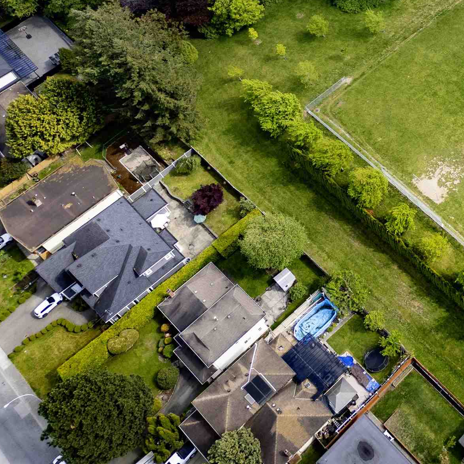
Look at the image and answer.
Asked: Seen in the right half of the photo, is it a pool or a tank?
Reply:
pool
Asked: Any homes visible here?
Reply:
Yes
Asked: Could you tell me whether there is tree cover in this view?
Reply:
Yes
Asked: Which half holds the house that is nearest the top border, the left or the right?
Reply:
left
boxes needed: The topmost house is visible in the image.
[0,34,46,95]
